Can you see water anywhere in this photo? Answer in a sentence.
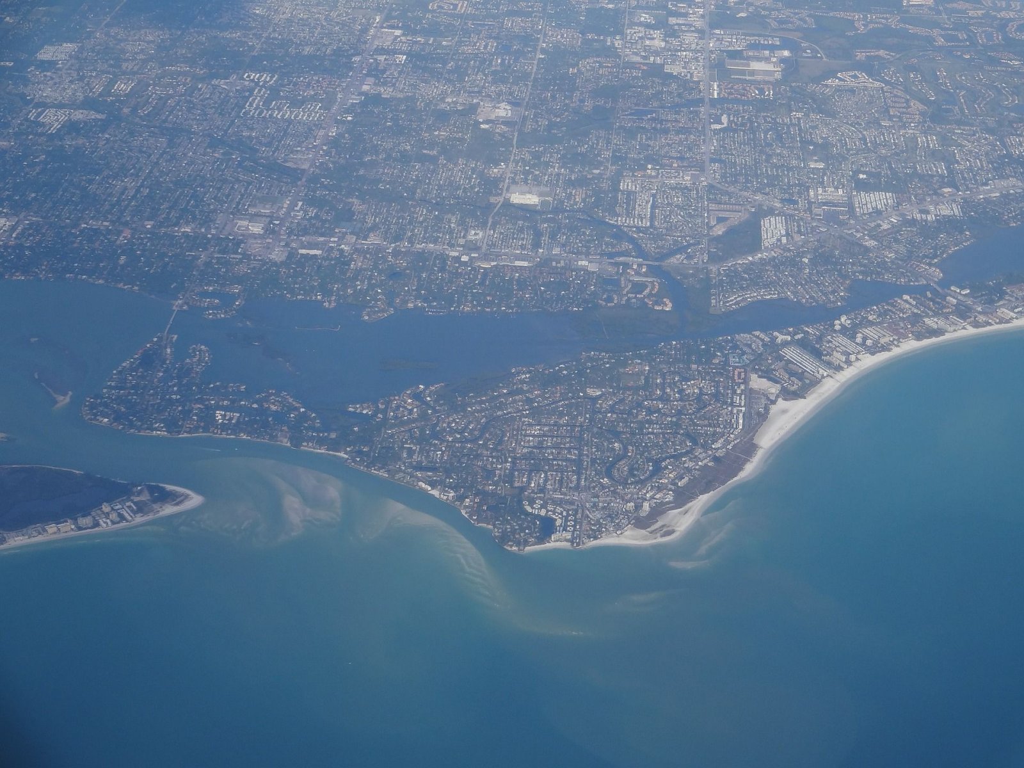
Yes, water can be seen from above here.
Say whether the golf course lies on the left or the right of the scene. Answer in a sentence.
The golf course is on the right side of the image.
